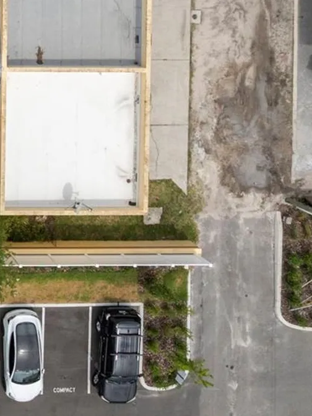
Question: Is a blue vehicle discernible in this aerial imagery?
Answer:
No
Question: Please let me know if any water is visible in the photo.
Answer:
No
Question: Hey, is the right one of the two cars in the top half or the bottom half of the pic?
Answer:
bottom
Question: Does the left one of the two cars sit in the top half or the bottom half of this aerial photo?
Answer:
bottom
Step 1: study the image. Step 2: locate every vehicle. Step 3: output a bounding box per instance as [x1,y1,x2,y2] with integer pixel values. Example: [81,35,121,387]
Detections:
[0,308,49,401]
[90,295,148,401]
